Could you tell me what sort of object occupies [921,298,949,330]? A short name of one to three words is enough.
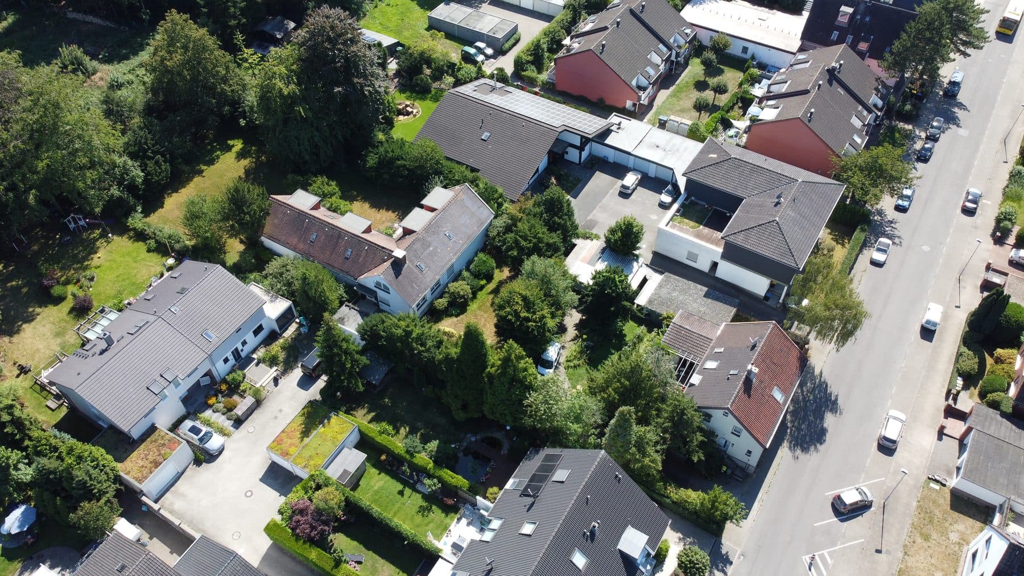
van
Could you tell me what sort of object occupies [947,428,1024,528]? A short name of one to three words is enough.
building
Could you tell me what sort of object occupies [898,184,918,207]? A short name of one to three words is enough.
car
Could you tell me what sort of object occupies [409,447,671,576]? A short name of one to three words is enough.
house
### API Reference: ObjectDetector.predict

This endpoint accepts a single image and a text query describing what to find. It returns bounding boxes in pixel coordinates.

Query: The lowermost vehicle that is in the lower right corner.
[832,484,878,513]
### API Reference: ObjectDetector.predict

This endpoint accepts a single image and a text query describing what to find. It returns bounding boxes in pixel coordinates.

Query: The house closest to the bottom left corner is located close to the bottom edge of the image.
[70,529,173,576]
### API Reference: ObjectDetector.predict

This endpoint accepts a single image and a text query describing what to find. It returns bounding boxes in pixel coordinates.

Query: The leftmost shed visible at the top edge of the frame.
[246,15,301,51]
